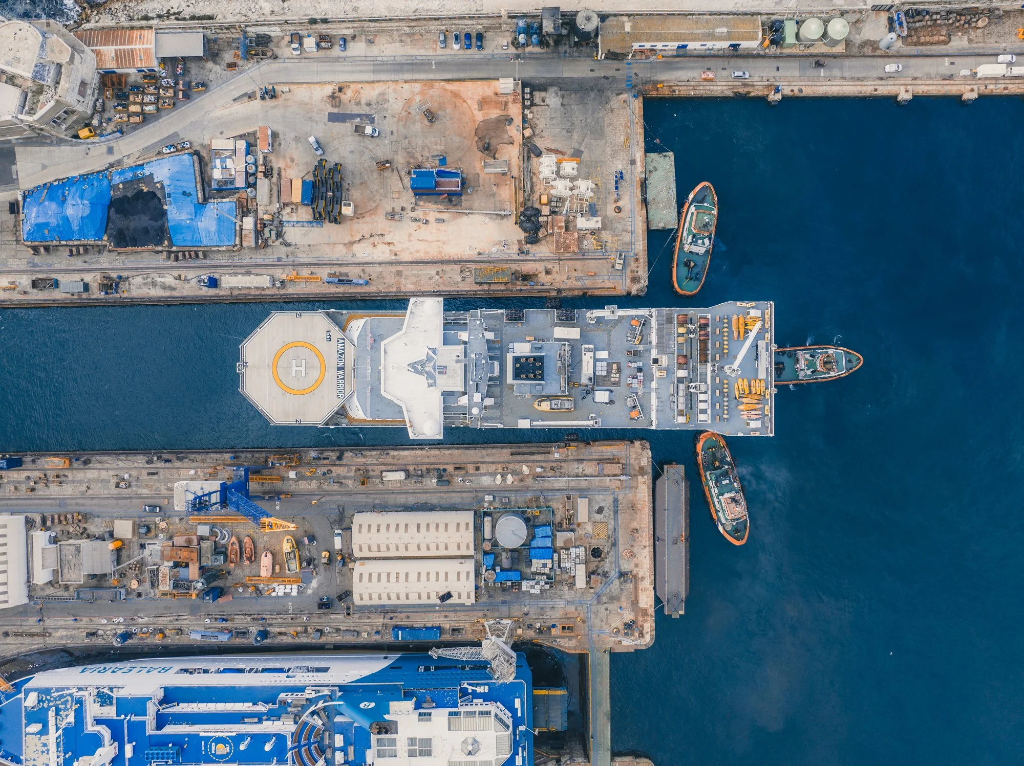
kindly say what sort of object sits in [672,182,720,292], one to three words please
boat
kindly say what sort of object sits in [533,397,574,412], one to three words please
boat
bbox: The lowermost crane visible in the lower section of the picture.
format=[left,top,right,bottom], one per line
[427,617,527,684]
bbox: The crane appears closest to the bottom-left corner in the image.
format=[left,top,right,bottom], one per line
[174,465,325,533]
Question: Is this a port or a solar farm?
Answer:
port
